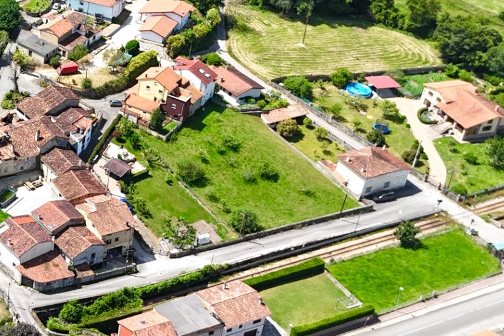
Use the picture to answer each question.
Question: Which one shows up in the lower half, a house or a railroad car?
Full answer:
The one visible in the lower half is a house.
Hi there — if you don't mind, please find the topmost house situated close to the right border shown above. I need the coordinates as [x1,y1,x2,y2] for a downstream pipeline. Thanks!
[421,71,504,142]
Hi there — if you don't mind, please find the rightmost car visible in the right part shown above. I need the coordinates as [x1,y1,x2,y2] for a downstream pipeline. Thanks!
[372,192,395,205]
